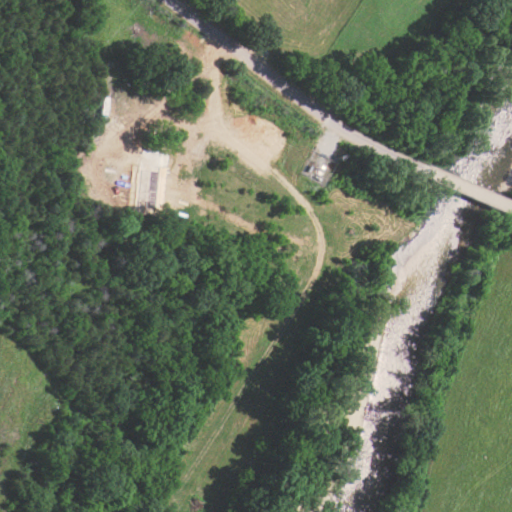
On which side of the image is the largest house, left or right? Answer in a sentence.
It is on the left.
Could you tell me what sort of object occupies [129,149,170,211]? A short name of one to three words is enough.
house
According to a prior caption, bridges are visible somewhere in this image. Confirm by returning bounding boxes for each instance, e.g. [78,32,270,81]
[441,170,512,214]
